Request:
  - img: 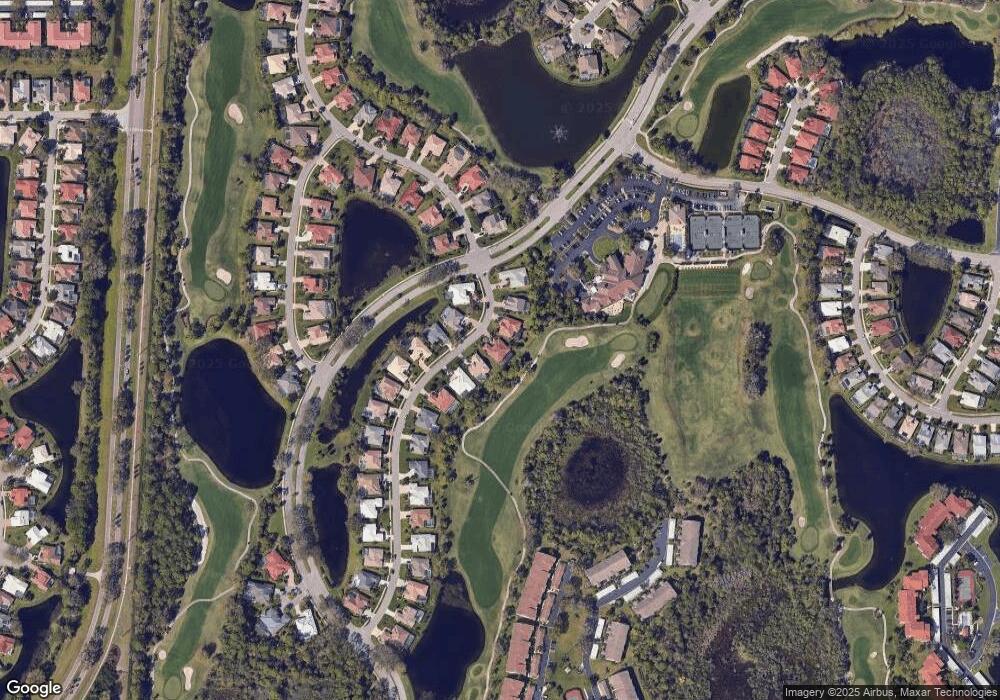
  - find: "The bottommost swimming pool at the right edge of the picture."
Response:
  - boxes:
[959,611,973,630]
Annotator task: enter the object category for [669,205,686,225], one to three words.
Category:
building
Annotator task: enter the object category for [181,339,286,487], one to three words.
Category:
pond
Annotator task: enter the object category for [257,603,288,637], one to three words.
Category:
house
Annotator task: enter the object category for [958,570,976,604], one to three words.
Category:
tennis court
